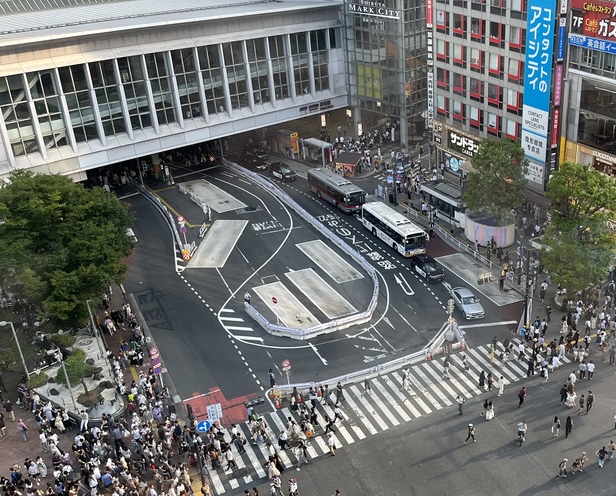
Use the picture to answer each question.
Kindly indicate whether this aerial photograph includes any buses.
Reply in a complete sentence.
Yes, I can see a bus in this picture.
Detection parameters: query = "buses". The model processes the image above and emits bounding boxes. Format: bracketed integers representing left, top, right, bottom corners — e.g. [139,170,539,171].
[362,195,432,254]
[309,168,374,218]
